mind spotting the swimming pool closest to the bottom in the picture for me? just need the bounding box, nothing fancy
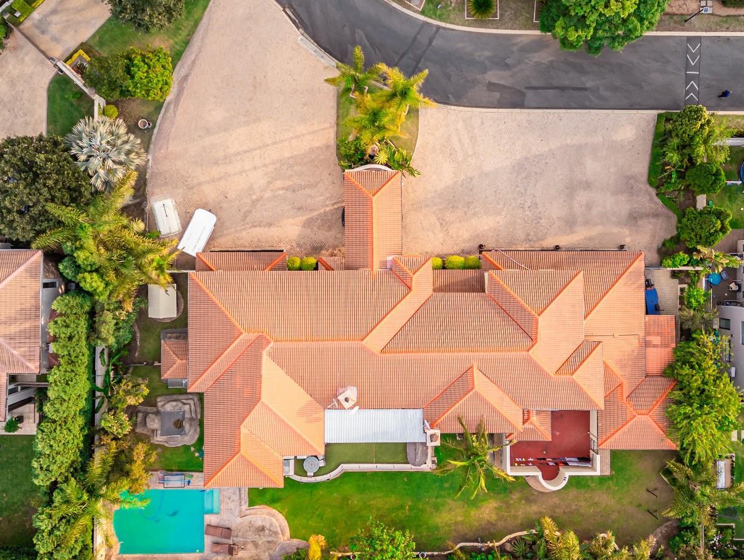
[110,487,221,557]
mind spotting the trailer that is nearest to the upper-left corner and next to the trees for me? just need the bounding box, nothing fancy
[152,191,183,235]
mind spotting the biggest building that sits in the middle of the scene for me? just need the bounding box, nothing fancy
[160,162,678,489]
